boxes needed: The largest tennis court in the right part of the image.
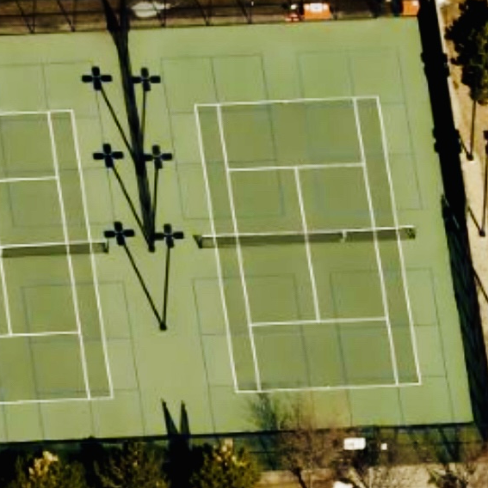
[195,96,420,392]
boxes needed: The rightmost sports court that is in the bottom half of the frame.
[328,268,455,436]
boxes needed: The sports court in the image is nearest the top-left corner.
[0,60,116,226]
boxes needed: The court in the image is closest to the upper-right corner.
[296,47,421,213]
